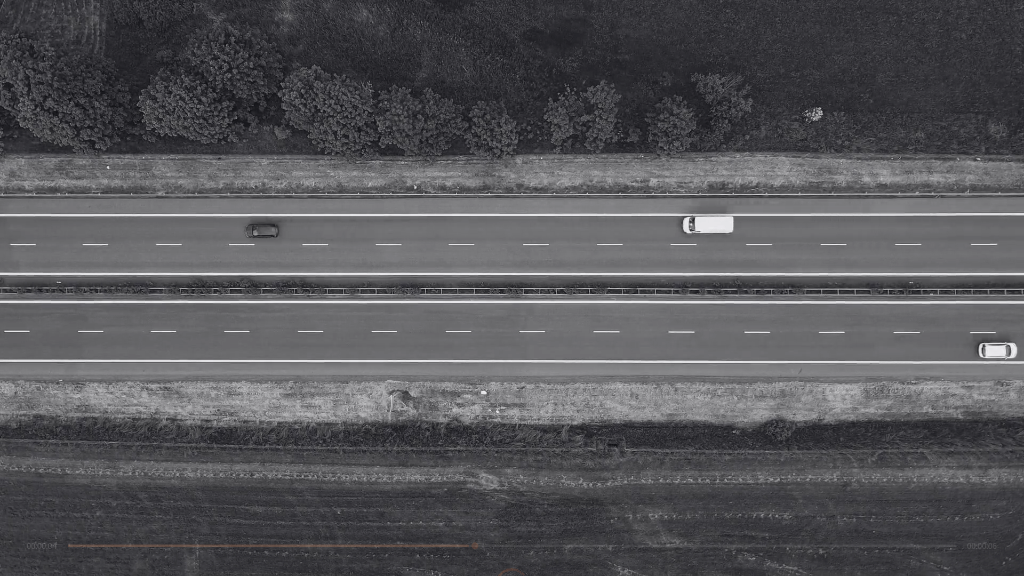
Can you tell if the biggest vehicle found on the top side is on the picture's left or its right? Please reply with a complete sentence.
The biggest vehicle found on the top side appears in the right half of the scene.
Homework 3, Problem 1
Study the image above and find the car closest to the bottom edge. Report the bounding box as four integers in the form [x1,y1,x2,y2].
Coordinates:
[977,342,1017,360]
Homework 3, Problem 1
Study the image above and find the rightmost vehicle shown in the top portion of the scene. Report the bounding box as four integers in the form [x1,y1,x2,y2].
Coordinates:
[682,214,733,236]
